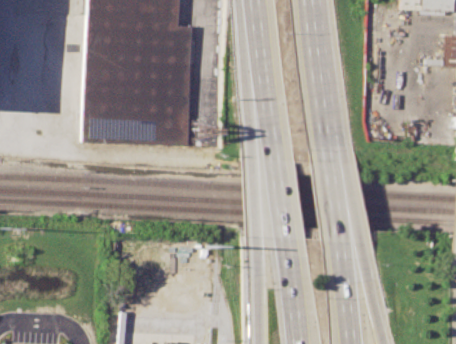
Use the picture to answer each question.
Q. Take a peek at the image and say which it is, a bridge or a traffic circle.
bridge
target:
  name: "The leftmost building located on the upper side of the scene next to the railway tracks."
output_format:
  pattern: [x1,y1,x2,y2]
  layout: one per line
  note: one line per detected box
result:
[79,0,192,144]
